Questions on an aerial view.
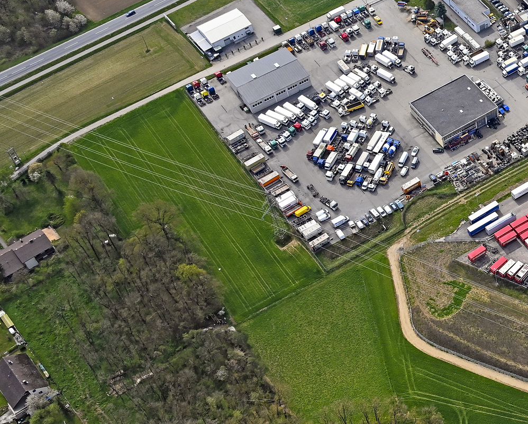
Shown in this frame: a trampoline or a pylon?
pylon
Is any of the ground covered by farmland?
Yes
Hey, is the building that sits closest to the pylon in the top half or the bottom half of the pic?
top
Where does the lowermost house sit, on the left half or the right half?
left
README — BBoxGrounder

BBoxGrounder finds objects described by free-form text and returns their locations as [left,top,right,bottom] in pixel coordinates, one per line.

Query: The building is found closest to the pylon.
[227,47,310,111]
